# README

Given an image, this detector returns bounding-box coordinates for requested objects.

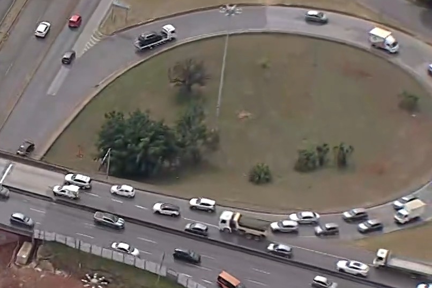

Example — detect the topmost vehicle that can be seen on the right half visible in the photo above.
[304,10,327,22]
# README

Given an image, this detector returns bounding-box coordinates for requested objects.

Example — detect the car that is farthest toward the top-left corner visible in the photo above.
[35,23,49,37]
